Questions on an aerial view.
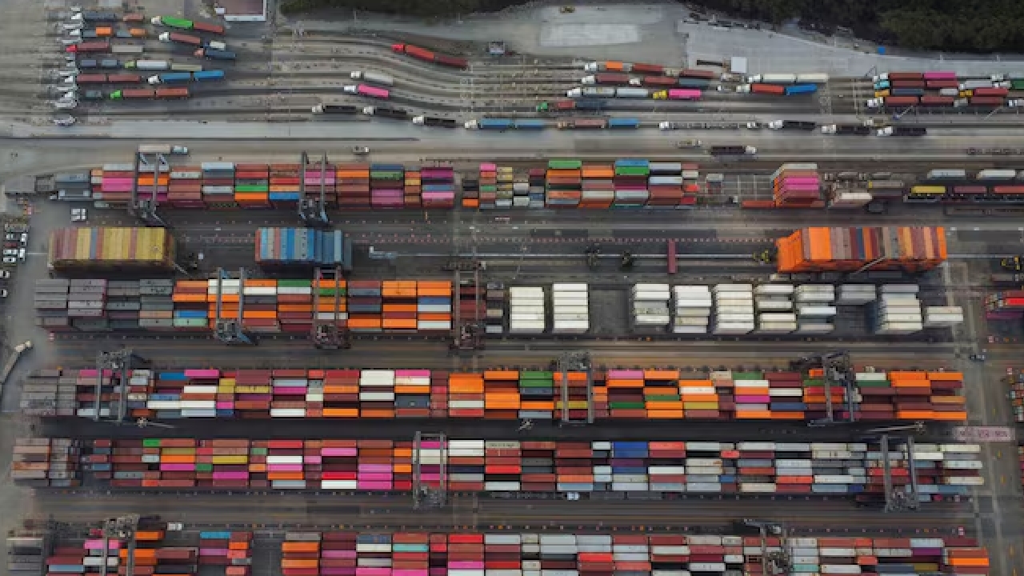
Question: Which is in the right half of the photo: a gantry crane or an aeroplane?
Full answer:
Looking in the right half of the photo, you will find a gantry crane.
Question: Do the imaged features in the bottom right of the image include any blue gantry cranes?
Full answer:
No, no blue gantry crane is visible in the bottom right of the image.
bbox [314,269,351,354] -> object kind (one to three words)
container crane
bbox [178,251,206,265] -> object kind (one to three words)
work vehicle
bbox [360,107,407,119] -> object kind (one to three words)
vehicle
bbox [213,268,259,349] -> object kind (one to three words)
container crane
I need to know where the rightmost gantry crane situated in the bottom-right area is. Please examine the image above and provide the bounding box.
[846,437,922,511]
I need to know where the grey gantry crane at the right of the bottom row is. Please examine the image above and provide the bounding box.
[729,518,791,576]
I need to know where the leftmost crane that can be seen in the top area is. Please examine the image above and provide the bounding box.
[131,151,181,234]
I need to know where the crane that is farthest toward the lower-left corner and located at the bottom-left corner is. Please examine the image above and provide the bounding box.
[100,513,162,576]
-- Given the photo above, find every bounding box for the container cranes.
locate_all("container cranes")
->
[91,351,153,423]
[413,433,449,508]
[301,151,333,231]
[131,151,181,234]
[550,353,594,425]
[796,352,868,424]
[729,518,791,576]
[314,269,351,354]
[213,268,259,349]
[846,437,922,511]
[100,513,162,576]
